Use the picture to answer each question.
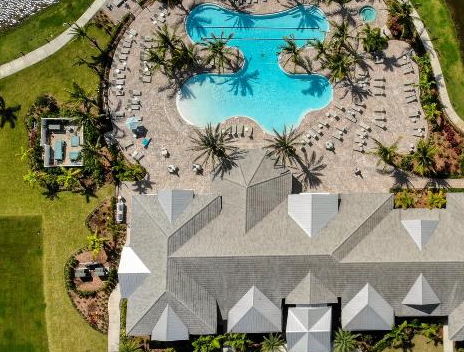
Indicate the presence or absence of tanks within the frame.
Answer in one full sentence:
No, there appears to be no tank in this shot.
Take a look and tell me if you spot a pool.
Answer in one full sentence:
Yes, this view includes a pool.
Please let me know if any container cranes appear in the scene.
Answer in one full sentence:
No, no container crane is visible in the scene.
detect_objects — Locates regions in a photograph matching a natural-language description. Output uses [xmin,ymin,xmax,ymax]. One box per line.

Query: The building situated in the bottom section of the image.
[118,150,464,352]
